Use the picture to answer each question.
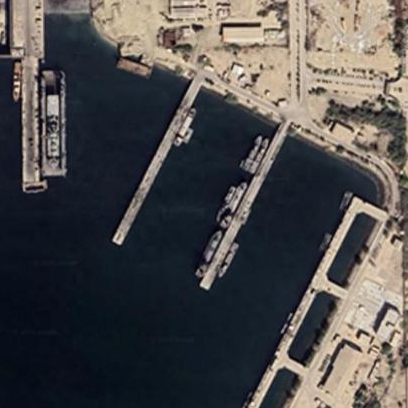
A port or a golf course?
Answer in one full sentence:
What you see here is a port.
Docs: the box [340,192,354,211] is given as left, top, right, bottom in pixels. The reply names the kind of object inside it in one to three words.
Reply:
boat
